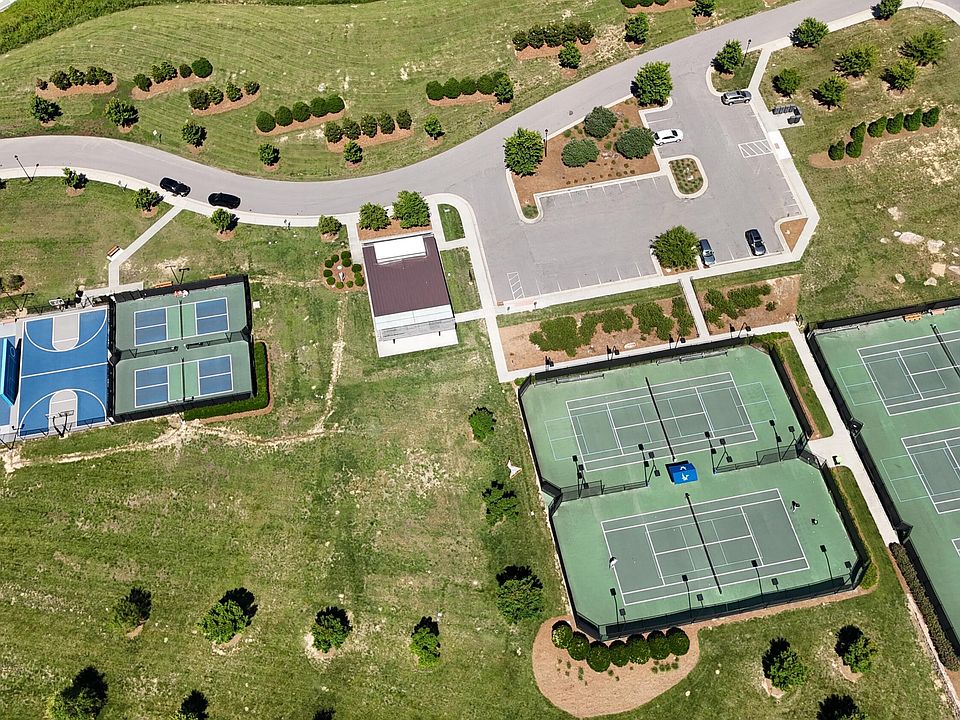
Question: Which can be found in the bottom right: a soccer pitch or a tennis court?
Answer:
tennis court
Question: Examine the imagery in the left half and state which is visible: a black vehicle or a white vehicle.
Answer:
black vehicle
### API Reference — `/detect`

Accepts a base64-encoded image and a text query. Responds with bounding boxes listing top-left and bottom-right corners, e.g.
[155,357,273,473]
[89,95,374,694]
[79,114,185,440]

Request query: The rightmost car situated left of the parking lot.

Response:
[209,193,241,209]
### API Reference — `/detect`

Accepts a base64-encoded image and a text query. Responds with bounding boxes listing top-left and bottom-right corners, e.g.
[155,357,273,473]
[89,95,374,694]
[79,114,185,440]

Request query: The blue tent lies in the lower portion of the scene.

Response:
[667,463,698,491]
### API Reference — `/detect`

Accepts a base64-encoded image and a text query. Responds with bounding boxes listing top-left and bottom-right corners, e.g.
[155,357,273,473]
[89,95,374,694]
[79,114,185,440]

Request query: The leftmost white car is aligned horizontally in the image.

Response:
[652,129,682,145]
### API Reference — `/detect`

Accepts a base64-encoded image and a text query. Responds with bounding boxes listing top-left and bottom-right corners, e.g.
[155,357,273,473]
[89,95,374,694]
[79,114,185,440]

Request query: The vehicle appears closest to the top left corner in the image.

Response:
[159,176,190,197]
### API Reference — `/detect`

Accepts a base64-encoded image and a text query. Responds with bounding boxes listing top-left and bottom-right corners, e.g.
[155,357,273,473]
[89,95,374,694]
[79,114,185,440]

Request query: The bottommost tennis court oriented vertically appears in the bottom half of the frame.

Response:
[898,523,960,667]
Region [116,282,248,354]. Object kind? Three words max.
sports court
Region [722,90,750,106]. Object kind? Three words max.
car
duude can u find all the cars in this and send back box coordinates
[652,129,682,145]
[745,230,765,256]
[159,176,190,197]
[722,90,750,106]
[209,193,241,209]
[698,239,716,267]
